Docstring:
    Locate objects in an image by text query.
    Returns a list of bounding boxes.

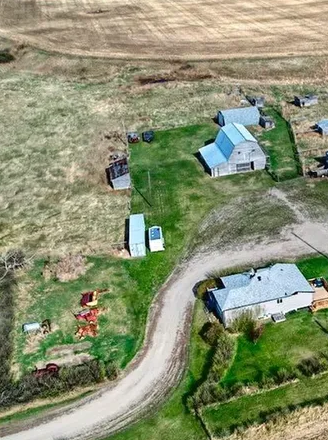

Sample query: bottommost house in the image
[212,262,315,325]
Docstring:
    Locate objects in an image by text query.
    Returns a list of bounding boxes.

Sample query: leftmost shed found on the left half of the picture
[108,164,133,189]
